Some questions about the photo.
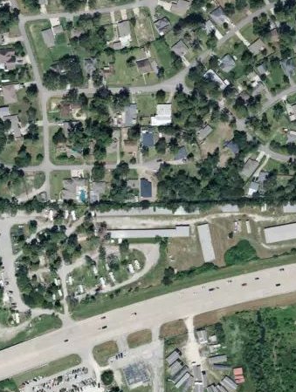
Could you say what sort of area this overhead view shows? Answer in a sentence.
What you see here is a residential area.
